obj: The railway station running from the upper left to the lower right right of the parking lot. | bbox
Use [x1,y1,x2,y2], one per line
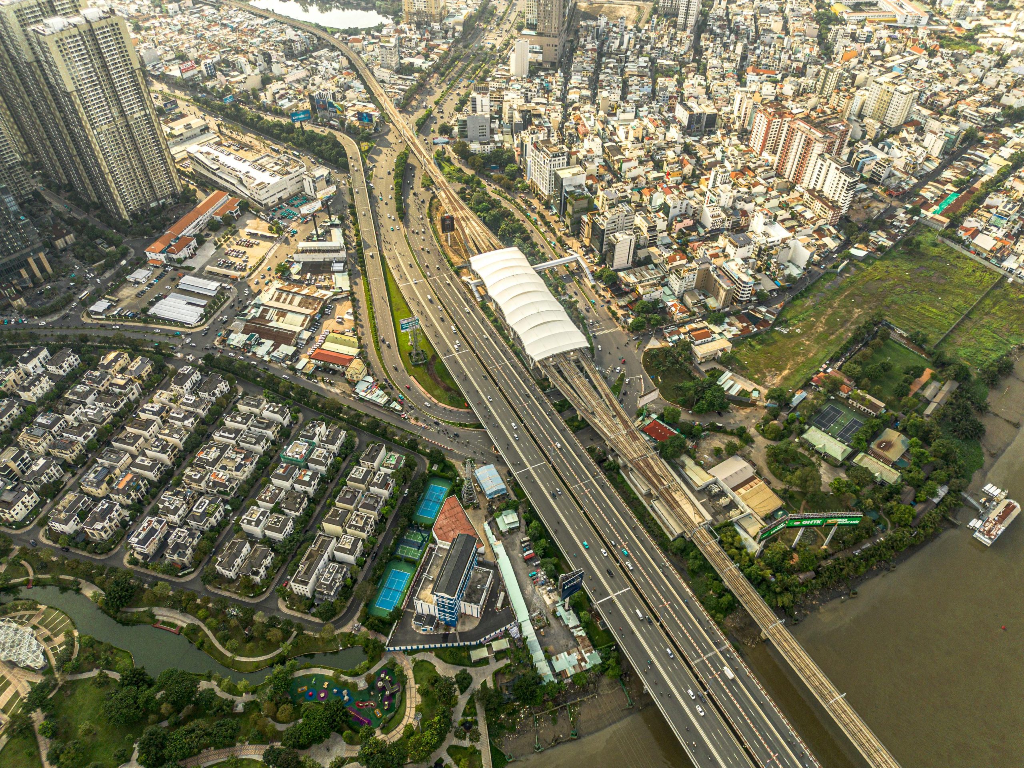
[469,246,589,368]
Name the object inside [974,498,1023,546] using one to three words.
ship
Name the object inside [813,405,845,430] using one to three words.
tennis court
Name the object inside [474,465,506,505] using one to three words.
building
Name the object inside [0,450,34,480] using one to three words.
house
